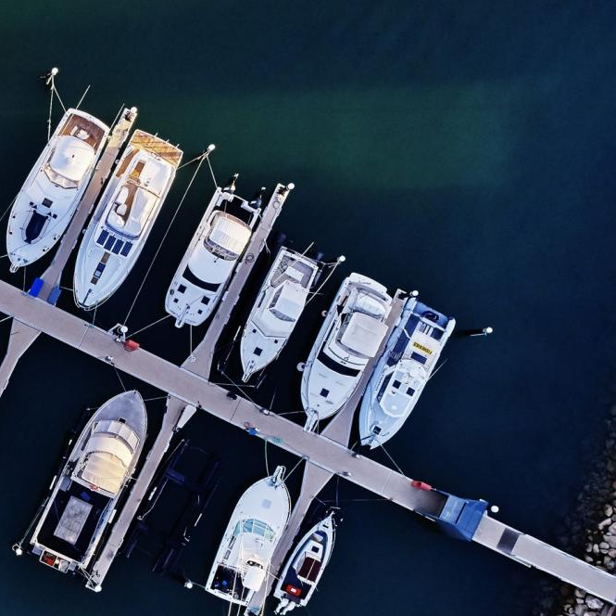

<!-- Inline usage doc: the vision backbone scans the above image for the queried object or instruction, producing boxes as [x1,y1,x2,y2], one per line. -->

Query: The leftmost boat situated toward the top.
[6,85,124,272]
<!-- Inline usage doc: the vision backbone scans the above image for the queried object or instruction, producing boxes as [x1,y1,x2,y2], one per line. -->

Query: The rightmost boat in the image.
[359,297,457,450]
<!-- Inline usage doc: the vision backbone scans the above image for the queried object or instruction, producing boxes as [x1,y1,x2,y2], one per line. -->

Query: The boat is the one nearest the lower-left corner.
[29,389,147,573]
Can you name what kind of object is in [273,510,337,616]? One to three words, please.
boat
